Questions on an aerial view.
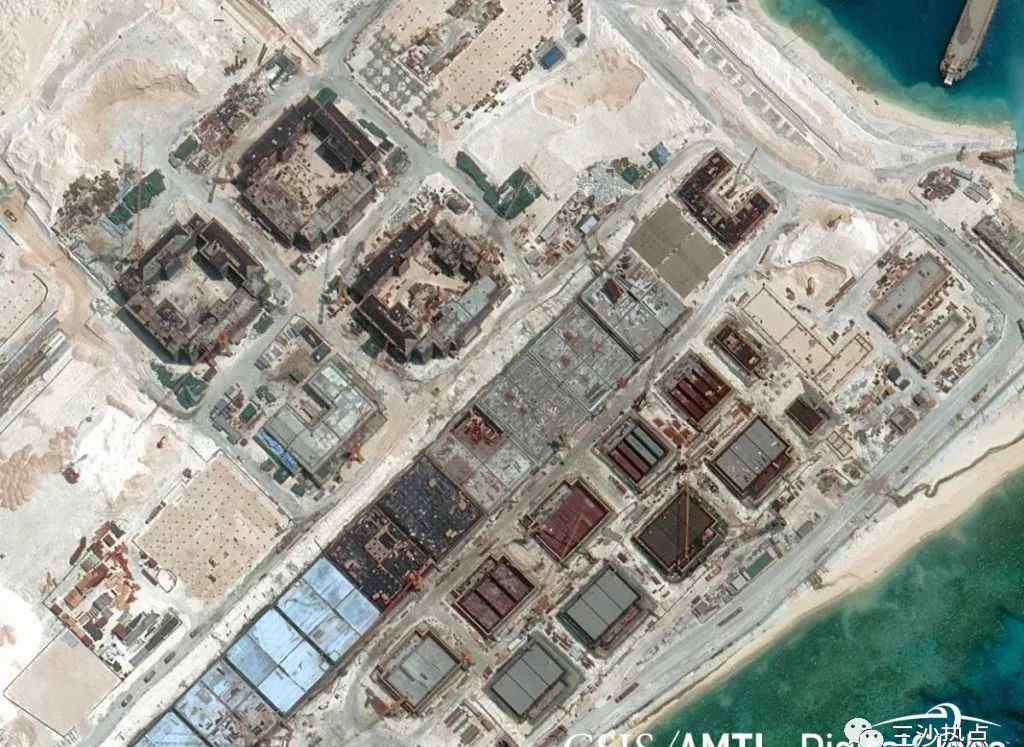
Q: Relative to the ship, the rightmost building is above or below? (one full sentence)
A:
As seen from overhead, the rightmost building falls below the ship in the picture.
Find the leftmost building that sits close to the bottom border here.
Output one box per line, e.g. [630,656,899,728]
[380,637,462,715]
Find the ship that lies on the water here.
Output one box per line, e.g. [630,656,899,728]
[940,0,999,87]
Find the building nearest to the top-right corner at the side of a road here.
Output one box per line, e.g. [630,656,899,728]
[972,216,1024,294]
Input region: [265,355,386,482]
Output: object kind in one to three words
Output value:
building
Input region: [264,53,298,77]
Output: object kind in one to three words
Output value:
shed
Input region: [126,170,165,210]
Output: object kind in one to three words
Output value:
shed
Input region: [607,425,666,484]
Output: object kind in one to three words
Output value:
building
